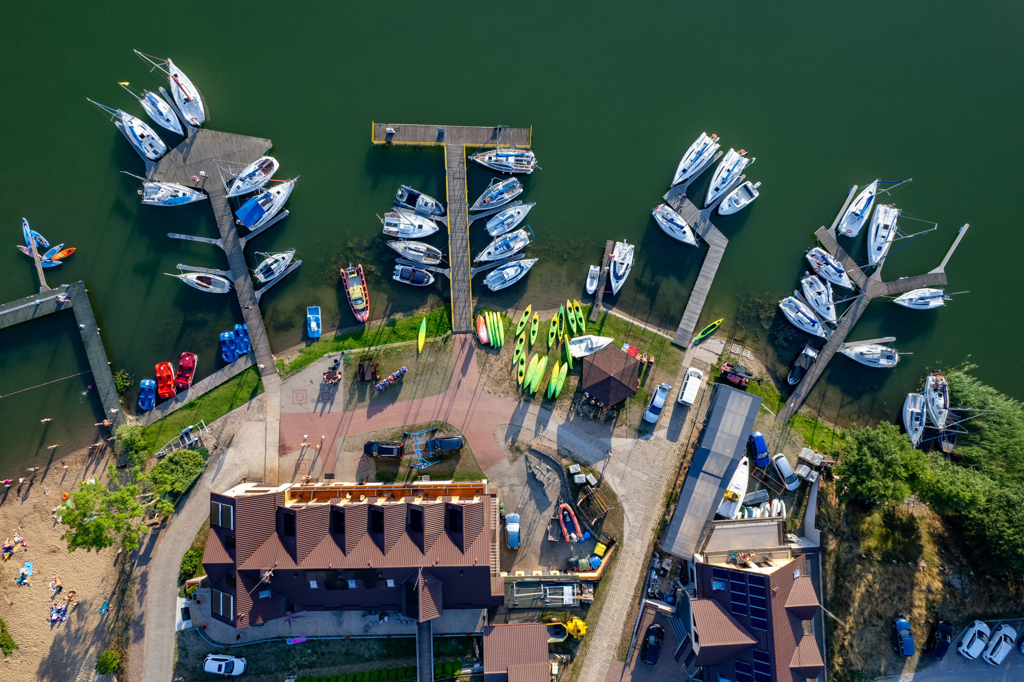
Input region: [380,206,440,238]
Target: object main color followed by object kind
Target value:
white boat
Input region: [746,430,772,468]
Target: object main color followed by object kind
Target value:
blue car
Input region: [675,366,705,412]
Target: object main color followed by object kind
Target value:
white van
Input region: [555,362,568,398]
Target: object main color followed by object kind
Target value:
green boat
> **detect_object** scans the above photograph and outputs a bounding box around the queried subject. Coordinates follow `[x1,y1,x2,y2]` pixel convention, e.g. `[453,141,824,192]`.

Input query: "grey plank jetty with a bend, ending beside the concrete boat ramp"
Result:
[663,151,745,347]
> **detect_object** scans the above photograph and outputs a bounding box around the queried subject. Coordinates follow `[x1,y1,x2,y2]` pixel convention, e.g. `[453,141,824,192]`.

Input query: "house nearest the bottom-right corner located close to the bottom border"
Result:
[684,539,823,682]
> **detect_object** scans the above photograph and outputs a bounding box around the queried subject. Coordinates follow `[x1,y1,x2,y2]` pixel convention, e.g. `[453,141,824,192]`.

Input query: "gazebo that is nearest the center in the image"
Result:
[582,343,639,406]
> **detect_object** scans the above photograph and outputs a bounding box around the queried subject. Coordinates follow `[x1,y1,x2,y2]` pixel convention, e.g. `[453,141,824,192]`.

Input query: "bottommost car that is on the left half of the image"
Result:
[202,652,247,678]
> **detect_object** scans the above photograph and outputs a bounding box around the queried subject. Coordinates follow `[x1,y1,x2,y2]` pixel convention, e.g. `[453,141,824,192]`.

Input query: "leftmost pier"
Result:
[0,237,128,431]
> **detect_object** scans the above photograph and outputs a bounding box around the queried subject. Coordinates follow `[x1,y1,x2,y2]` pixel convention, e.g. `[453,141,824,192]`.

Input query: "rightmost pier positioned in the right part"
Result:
[776,185,969,423]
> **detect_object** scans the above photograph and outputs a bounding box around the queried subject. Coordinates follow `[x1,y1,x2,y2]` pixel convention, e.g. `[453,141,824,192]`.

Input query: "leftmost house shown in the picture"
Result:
[201,474,509,628]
